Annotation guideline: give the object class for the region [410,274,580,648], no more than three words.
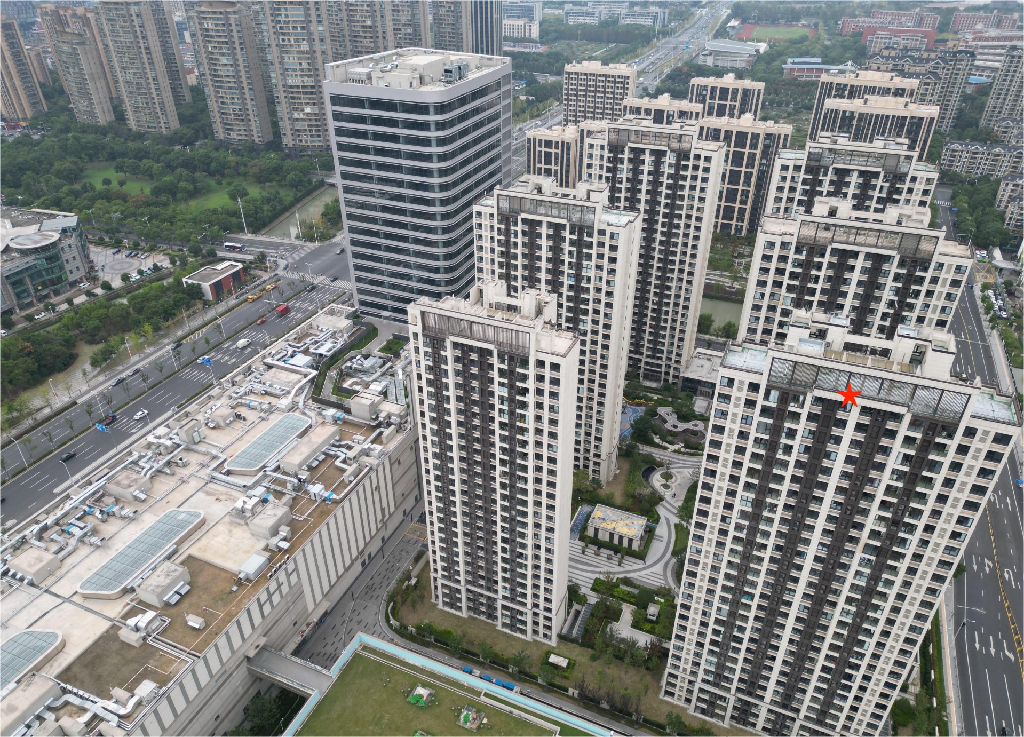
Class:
building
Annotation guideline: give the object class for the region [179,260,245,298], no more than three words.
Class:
building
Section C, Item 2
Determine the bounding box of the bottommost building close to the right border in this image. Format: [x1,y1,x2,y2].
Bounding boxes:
[659,308,1024,737]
